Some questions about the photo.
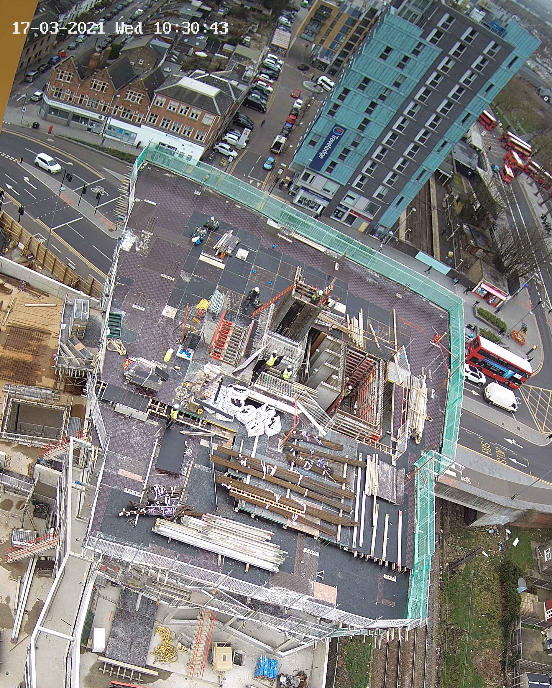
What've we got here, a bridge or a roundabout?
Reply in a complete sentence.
I can see a bridge in this picture.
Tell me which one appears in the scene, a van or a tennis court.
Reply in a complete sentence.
Looking from above, you can make out a van.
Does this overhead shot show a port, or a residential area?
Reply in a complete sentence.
The picture captures a residential area.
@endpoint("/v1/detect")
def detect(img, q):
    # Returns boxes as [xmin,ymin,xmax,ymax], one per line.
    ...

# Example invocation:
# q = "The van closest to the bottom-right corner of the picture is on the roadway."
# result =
[483,381,522,413]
